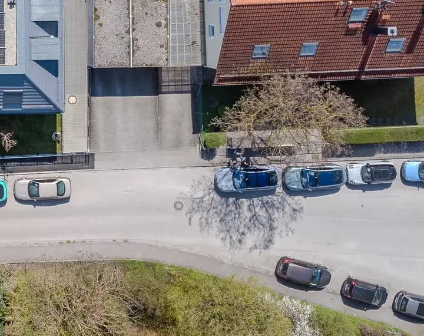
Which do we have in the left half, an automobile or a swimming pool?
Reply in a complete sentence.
Visible in the left half is an automobile.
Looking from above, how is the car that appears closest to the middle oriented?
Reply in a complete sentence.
I'd say the car that appears closest to the middle is aligned horizontally in the picture.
